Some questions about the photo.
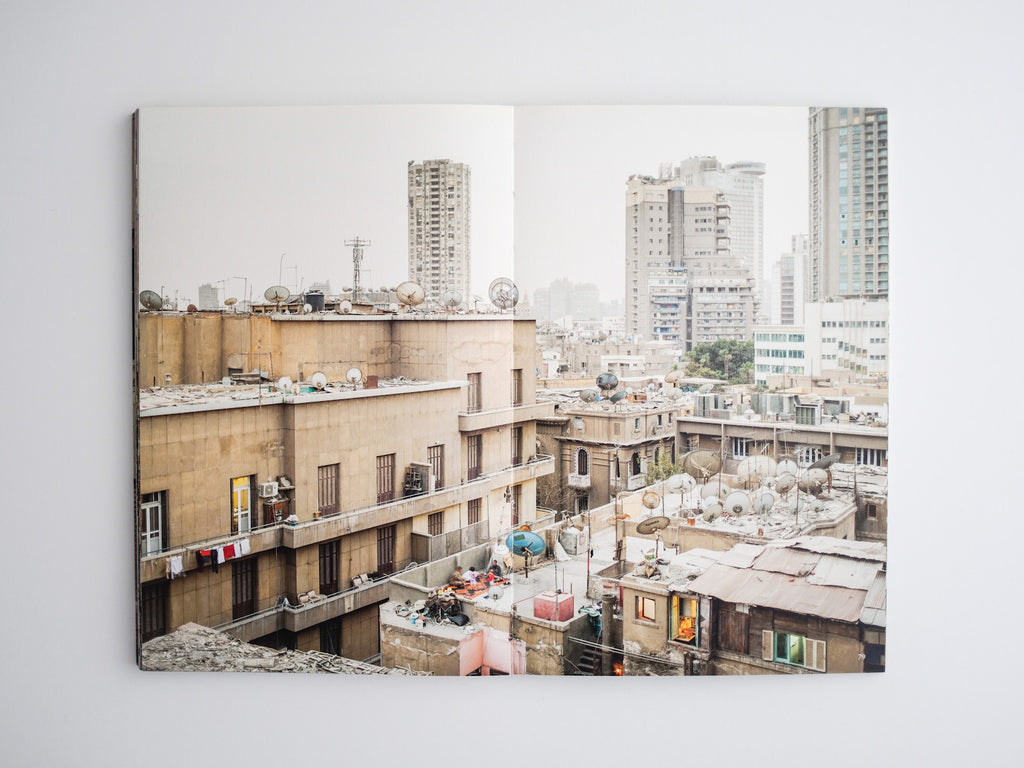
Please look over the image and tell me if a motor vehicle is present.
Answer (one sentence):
No, I can see no motor vehicle in this picture.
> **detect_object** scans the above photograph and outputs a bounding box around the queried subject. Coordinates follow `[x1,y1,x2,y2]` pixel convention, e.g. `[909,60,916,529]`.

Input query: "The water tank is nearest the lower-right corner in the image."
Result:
[560,509,588,554]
